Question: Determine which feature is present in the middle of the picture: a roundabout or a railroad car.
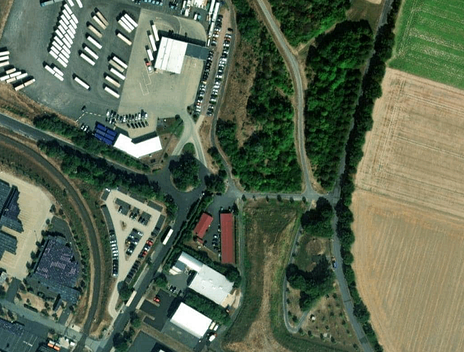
roundabout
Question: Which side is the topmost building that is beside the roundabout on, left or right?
left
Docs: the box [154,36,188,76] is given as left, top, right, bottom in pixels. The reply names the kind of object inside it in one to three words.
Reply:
building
